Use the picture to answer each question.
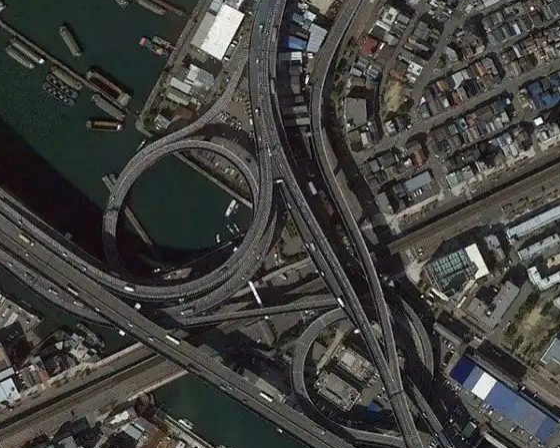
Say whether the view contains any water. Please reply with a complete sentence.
Yes, water can be seen from above here.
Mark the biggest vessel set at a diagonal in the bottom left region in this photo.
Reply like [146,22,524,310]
[75,319,103,349]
